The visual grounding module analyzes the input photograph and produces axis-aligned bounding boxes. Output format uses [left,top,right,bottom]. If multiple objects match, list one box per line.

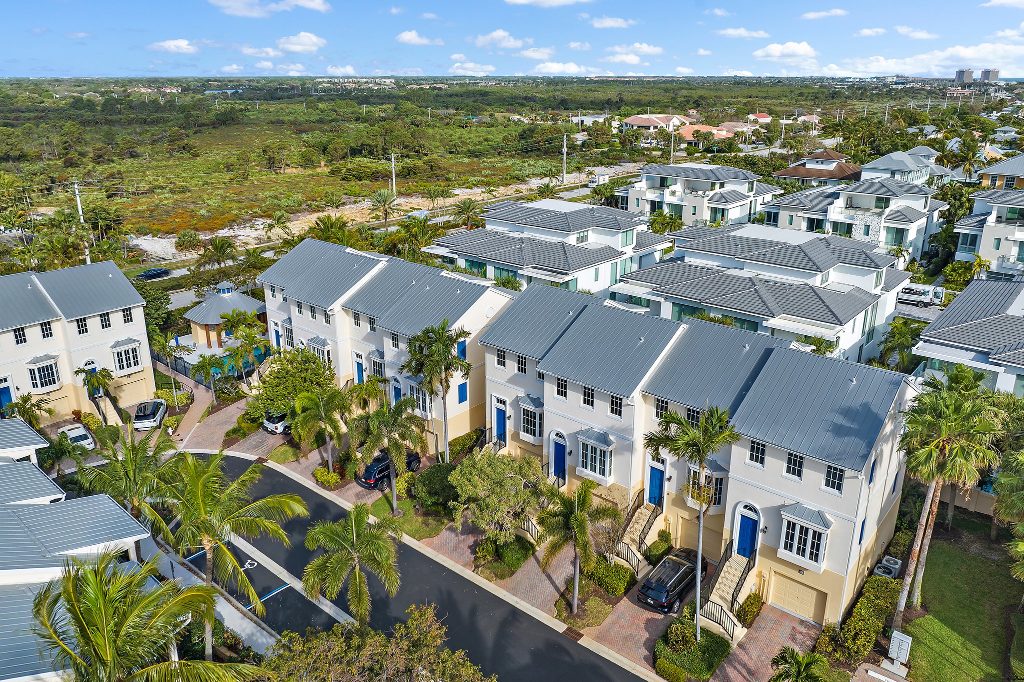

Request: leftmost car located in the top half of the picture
[134,265,174,278]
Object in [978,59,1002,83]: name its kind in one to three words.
building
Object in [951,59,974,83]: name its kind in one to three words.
building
